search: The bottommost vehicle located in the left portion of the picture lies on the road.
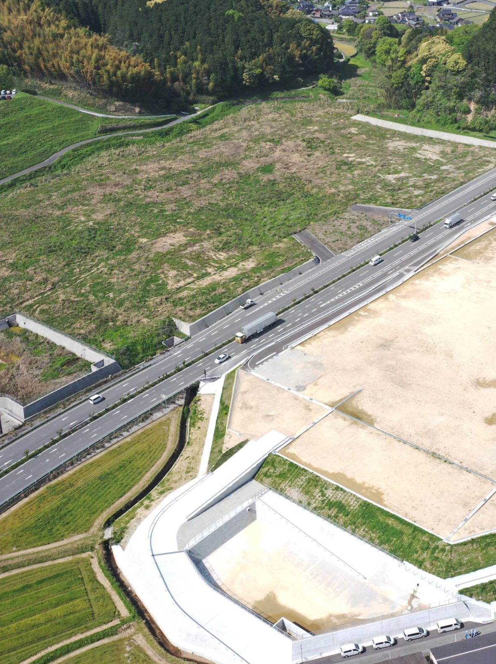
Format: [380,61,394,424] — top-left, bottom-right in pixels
[87,394,104,406]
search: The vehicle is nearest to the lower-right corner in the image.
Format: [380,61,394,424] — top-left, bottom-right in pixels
[438,619,460,634]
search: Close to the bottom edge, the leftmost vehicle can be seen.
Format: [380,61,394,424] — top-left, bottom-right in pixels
[339,643,363,659]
